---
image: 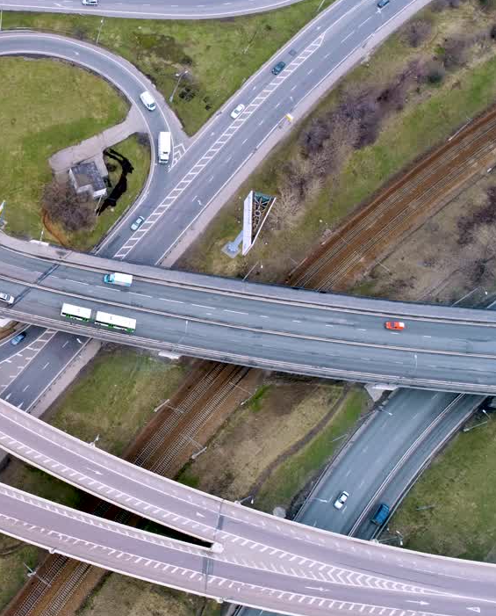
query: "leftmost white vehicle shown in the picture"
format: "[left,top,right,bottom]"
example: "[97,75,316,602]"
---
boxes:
[0,292,15,304]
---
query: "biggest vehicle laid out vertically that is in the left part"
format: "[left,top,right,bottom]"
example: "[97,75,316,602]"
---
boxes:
[157,132,170,163]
